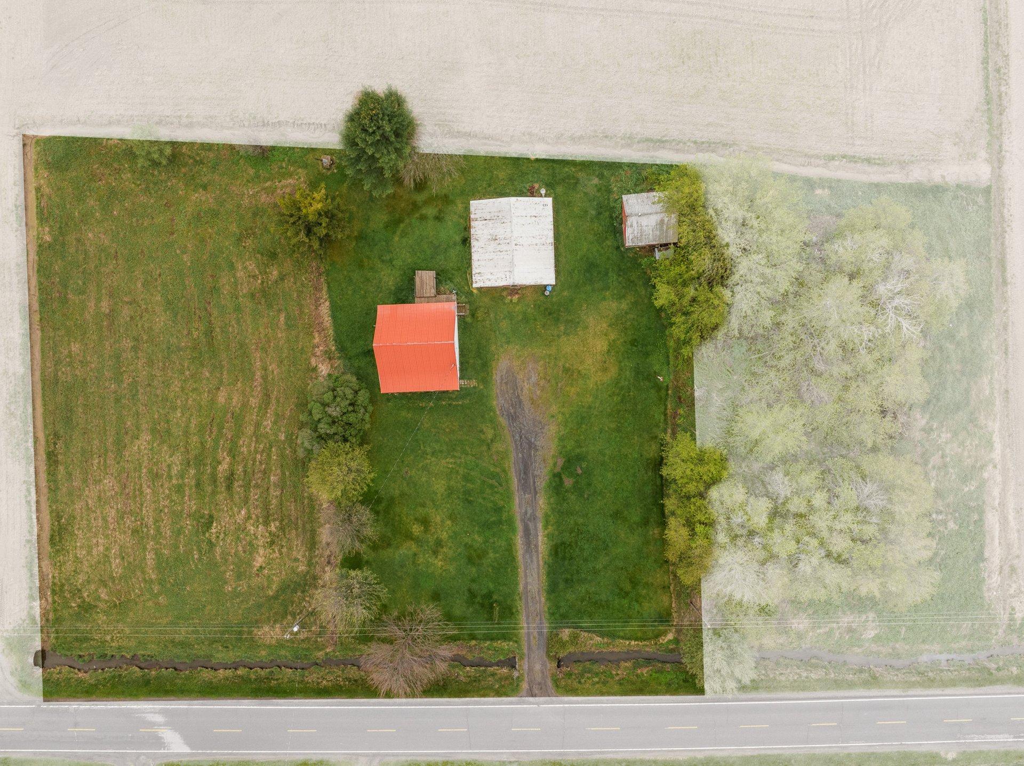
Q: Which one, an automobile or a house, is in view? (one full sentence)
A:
Of the two, only a house appears.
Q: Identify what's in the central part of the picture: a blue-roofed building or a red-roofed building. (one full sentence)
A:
The one visible in the central part of the picture is a red-roofed building.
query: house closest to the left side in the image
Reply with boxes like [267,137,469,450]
[373,302,460,392]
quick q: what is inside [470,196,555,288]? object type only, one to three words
barn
